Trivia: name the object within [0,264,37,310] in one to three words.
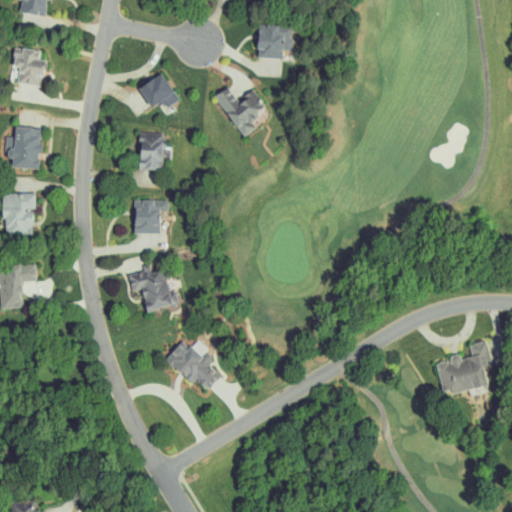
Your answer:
house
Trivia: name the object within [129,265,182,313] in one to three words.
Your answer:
house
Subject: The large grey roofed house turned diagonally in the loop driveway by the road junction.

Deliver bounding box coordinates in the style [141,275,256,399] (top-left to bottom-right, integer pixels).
[167,340,221,389]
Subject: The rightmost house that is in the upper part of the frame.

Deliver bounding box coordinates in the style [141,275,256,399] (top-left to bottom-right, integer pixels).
[258,24,295,63]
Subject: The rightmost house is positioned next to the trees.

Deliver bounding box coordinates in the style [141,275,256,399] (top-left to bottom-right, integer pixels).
[438,341,493,395]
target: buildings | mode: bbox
[12,502,40,512]
[138,72,180,112]
[438,341,493,395]
[10,48,47,84]
[2,193,36,234]
[134,200,175,234]
[167,340,221,389]
[216,87,270,136]
[6,126,42,168]
[129,265,182,313]
[0,264,37,310]
[258,24,295,63]
[139,132,173,171]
